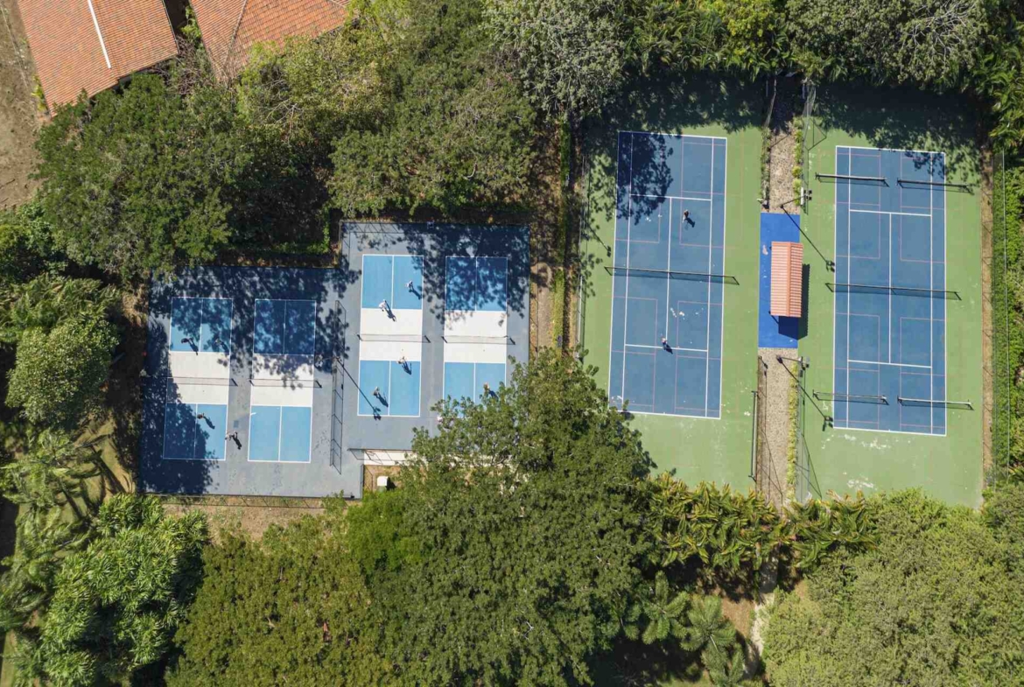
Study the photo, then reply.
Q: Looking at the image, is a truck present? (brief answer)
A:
No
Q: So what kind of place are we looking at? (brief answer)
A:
sports ground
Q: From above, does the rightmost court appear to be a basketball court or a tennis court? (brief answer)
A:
tennis court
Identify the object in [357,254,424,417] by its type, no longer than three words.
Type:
sports court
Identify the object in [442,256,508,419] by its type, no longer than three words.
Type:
sports court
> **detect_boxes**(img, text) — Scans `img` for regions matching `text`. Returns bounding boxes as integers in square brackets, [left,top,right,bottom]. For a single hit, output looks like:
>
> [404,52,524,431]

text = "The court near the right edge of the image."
[793,72,984,516]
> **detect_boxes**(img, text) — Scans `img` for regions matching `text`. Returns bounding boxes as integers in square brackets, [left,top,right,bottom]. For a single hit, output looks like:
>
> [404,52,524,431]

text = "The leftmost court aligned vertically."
[163,297,233,461]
